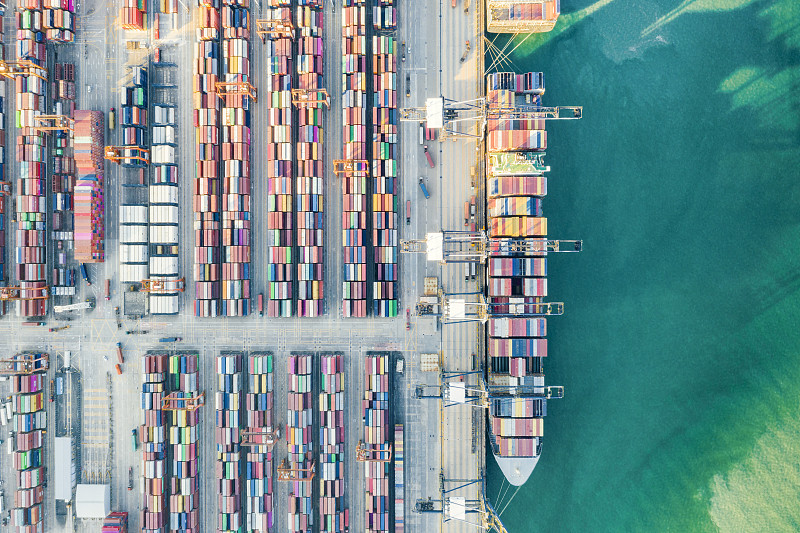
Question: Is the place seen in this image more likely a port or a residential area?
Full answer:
This image shows a port.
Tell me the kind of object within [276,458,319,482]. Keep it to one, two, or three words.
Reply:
container crane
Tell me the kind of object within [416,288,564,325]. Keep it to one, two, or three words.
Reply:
container crane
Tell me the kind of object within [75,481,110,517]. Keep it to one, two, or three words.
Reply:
shed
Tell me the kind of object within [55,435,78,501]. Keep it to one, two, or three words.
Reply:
building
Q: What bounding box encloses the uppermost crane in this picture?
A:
[255,19,298,45]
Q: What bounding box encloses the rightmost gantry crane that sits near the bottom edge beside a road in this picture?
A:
[416,464,521,533]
